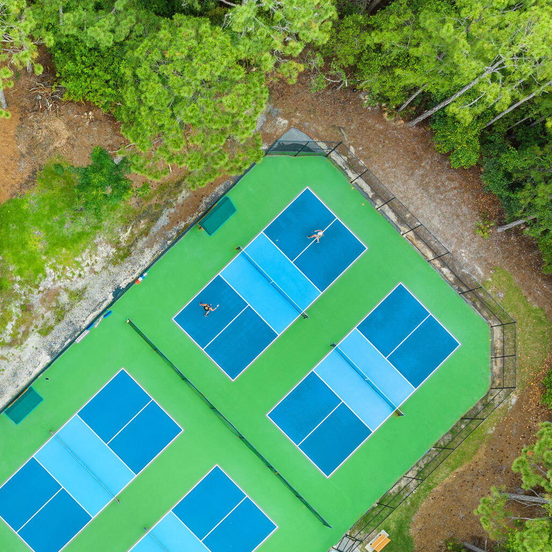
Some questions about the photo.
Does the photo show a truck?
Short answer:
No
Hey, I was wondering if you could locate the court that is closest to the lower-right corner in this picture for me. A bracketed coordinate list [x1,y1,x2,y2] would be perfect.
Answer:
[265,281,463,480]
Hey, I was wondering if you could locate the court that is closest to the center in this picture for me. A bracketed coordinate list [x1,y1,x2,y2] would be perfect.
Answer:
[170,185,369,382]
